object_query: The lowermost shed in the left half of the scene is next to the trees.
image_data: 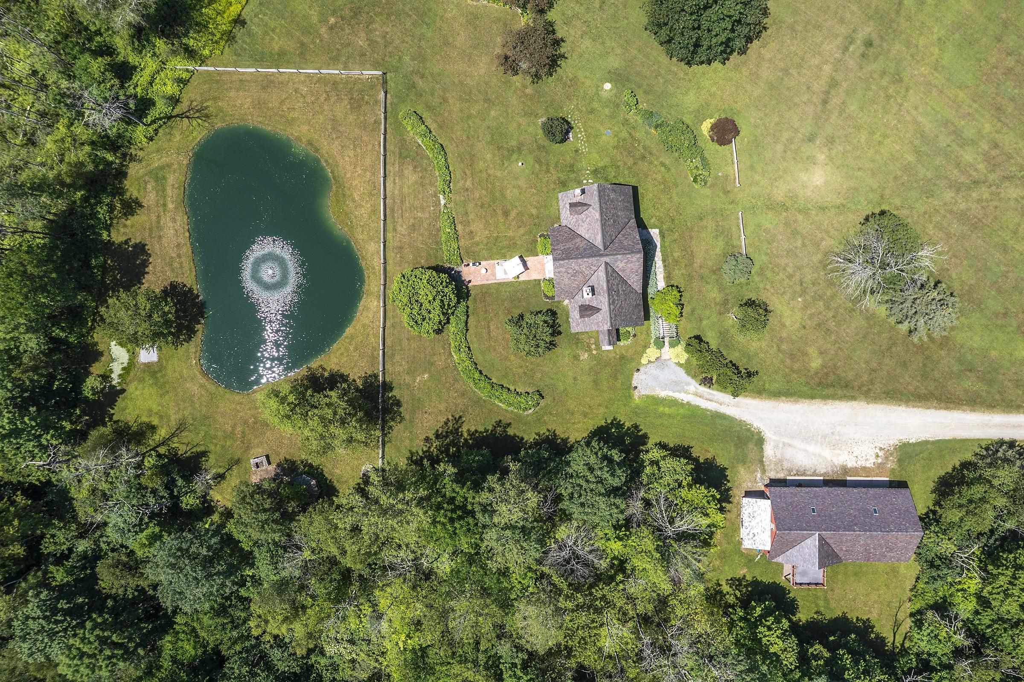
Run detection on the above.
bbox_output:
[138,342,159,365]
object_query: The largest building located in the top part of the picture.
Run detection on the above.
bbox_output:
[548,184,644,351]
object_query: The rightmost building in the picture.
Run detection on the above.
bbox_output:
[761,485,924,571]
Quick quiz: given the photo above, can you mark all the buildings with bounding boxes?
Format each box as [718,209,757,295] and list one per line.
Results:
[138,342,159,365]
[761,485,924,571]
[548,184,644,351]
